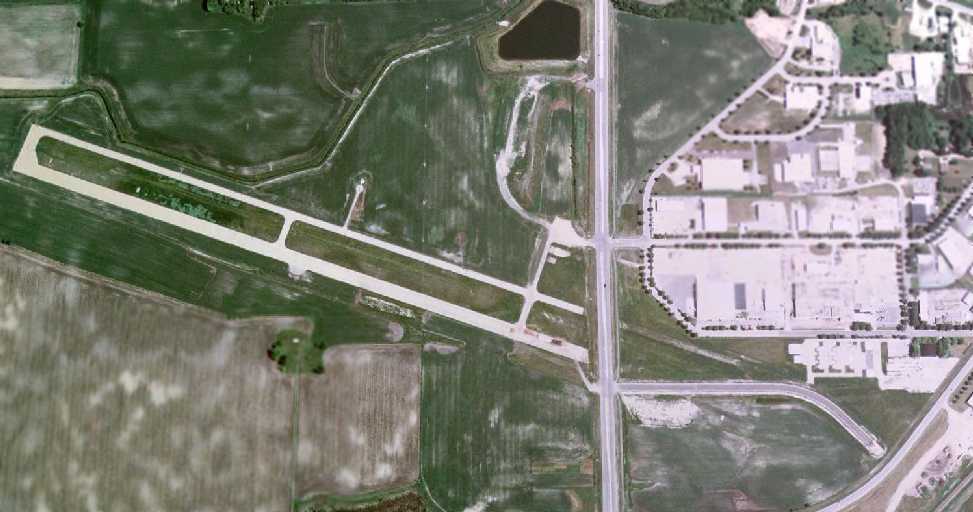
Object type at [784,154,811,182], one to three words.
building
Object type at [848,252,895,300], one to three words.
building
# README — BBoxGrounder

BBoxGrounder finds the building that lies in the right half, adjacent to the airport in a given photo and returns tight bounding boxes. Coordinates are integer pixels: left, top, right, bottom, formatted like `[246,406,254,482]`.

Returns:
[654,251,764,321]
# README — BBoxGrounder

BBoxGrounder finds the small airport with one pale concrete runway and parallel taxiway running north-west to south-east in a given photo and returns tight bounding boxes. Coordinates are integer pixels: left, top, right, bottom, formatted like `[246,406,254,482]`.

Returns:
[13,123,596,361]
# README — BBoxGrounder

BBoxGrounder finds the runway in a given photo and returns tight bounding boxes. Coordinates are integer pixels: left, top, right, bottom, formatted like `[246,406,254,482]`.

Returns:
[14,164,588,361]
